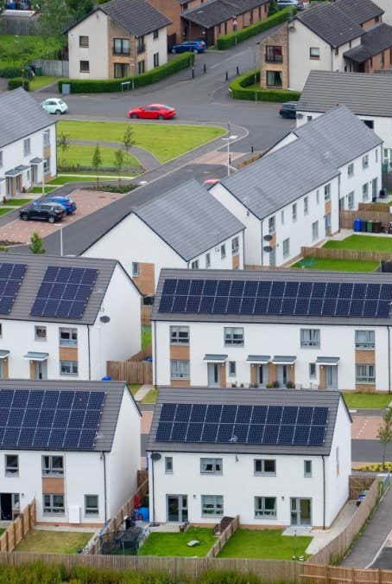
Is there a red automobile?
Yes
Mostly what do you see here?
buildings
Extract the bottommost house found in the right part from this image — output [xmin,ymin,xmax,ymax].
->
[147,370,351,528]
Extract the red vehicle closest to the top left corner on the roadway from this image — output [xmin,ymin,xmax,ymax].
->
[128,101,174,118]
